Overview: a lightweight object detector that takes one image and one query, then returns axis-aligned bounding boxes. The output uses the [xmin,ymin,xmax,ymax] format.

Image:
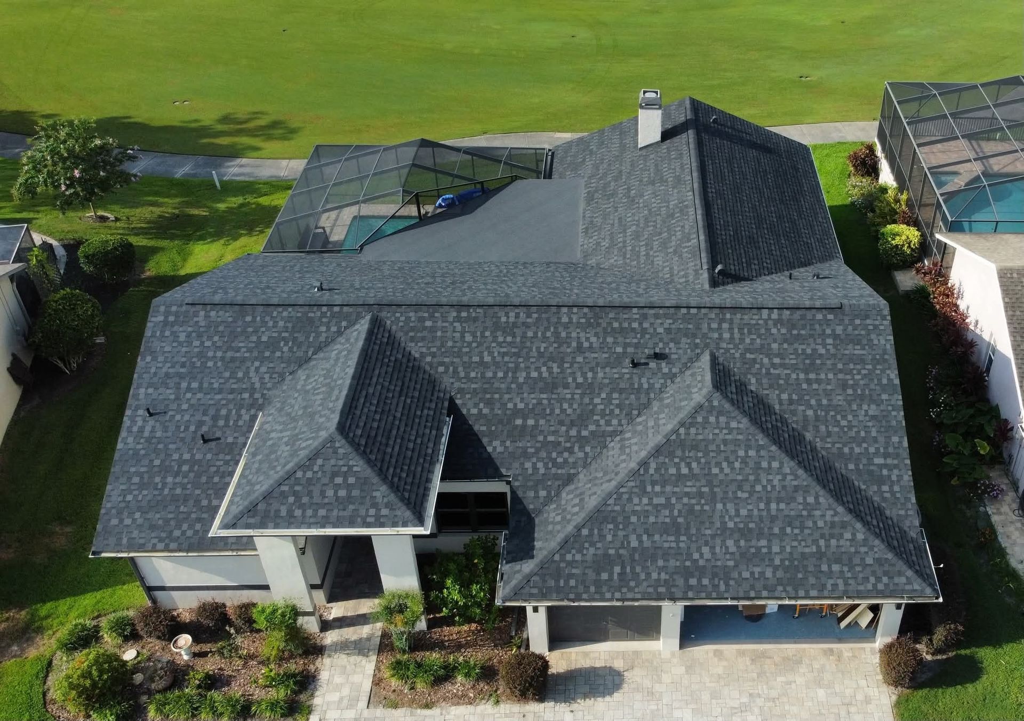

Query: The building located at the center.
[92,84,945,652]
